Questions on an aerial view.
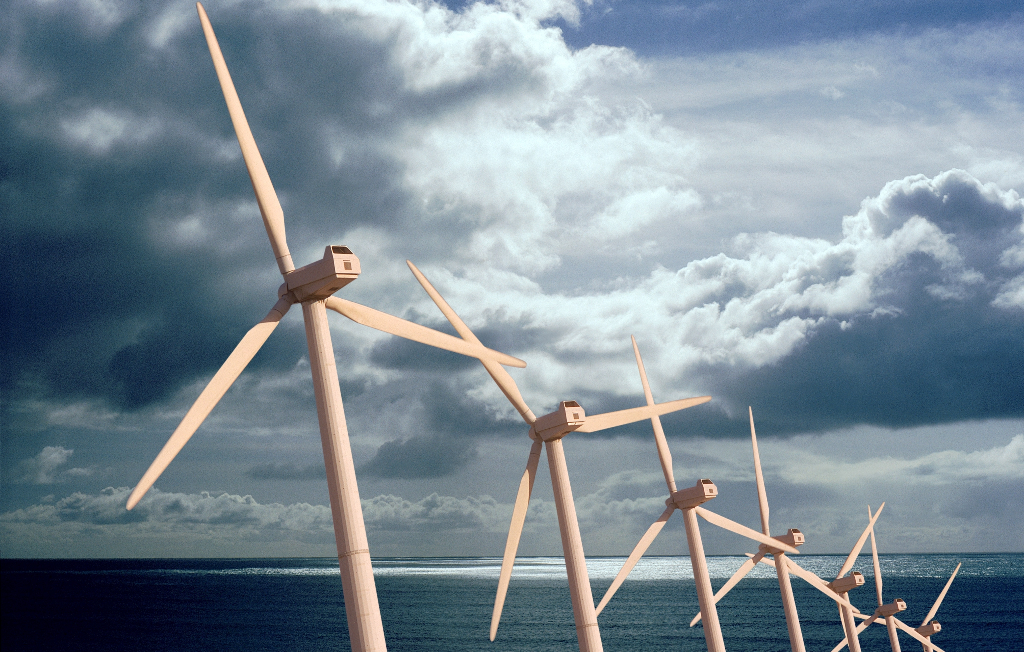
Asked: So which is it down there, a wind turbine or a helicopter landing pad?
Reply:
wind turbine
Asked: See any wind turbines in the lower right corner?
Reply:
Yes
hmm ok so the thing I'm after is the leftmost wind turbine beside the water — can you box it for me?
[129,1,525,652]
